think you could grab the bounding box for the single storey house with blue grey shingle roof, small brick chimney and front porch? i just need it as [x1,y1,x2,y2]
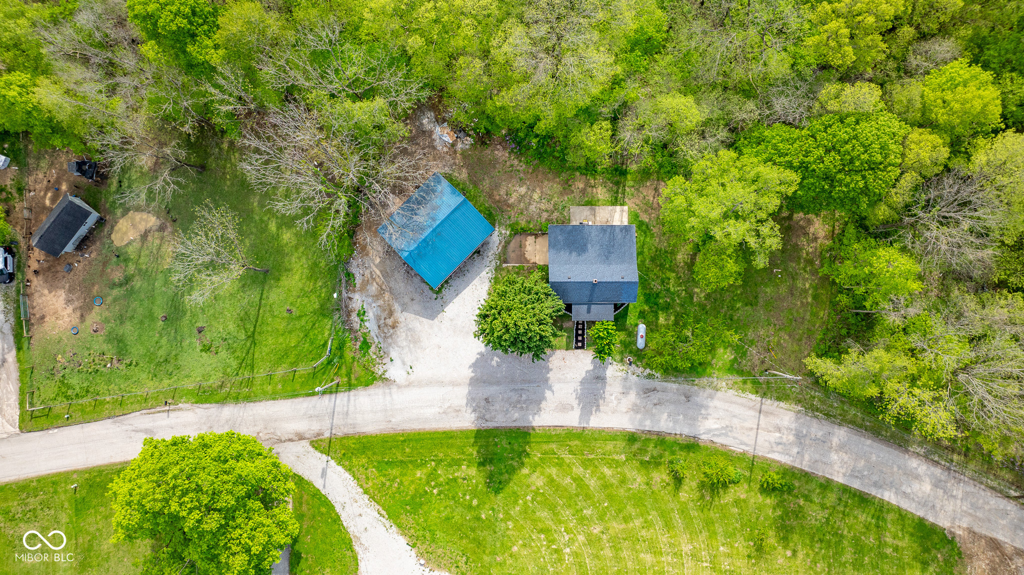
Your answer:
[548,224,641,321]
